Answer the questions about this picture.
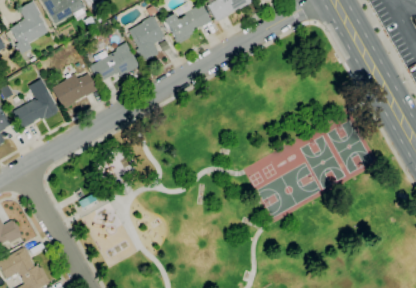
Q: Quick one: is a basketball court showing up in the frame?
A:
Yes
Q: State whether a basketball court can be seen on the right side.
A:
Yes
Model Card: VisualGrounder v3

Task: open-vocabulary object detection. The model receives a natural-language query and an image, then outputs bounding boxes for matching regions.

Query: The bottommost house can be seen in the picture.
[0,250,52,288]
